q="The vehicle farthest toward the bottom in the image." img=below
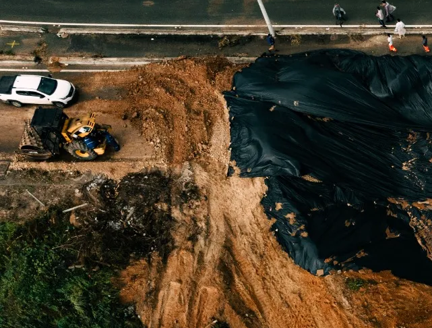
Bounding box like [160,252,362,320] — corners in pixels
[9,107,101,162]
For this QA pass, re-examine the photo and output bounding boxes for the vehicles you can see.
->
[0,71,79,109]
[9,107,101,162]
